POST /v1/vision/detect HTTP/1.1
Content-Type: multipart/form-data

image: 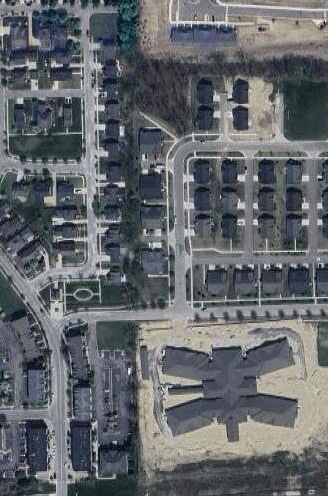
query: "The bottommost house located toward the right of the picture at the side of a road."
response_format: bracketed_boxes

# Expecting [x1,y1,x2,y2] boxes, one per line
[161,337,299,441]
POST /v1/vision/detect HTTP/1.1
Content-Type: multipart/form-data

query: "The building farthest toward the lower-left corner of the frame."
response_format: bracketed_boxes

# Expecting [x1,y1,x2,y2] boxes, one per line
[25,427,47,472]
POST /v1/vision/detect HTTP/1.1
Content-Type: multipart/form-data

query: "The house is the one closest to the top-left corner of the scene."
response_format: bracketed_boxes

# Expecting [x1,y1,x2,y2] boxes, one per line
[9,24,27,50]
